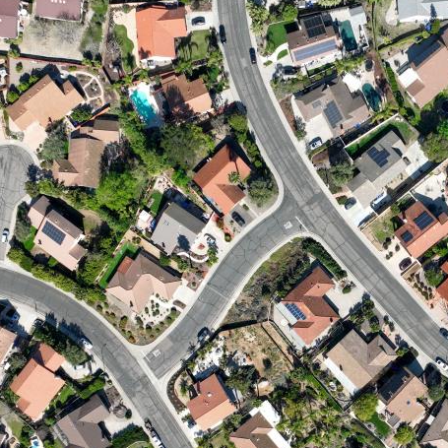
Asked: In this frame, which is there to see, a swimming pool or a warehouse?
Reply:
swimming pool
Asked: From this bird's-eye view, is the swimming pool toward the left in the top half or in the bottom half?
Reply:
top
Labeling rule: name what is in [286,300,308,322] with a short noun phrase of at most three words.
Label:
solar panel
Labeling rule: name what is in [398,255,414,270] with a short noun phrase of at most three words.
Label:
car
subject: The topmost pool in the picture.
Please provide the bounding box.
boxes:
[340,20,358,52]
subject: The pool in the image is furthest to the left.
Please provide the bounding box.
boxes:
[129,86,157,124]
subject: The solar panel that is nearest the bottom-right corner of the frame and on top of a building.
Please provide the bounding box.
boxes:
[379,379,403,403]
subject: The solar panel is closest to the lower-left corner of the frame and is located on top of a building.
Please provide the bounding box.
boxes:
[38,220,68,245]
